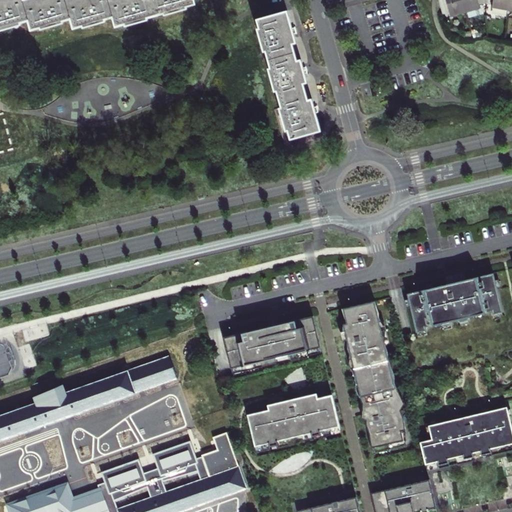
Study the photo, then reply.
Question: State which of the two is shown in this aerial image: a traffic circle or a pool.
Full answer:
I can see a traffic circle in this picture.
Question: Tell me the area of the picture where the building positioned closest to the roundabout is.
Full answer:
The building positioned closest to the roundabout appears toward the top of the photo.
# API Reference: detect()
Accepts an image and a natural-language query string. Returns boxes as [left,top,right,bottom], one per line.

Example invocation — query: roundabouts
[308,150,418,220]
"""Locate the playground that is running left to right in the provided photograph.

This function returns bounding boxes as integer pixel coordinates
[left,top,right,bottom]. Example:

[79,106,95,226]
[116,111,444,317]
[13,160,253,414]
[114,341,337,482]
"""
[46,76,158,122]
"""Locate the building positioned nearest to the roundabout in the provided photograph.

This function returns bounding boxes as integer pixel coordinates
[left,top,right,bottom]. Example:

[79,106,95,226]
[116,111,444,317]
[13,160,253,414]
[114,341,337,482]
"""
[256,11,321,142]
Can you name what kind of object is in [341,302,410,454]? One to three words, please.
building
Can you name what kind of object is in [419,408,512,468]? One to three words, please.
building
